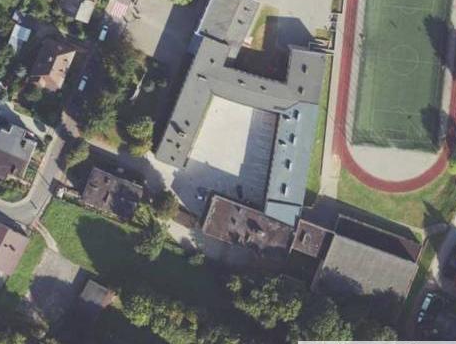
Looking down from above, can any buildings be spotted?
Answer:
Yes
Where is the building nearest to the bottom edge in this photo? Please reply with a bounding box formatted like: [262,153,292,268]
[81,280,107,305]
